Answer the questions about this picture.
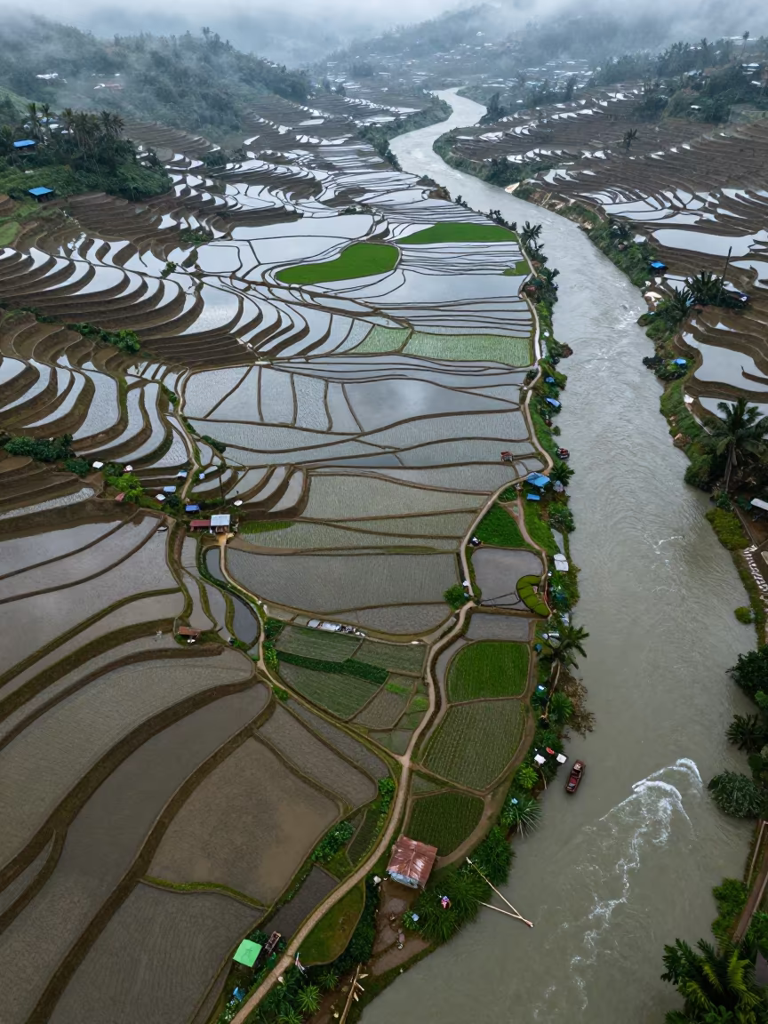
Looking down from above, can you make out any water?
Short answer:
Yes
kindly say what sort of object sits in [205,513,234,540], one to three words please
house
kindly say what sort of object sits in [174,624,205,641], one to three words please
shed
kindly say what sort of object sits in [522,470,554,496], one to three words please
shed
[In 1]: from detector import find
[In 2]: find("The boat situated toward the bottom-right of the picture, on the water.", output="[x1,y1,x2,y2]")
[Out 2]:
[565,759,584,794]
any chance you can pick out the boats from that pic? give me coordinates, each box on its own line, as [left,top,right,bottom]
[565,759,584,794]
[555,449,570,458]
